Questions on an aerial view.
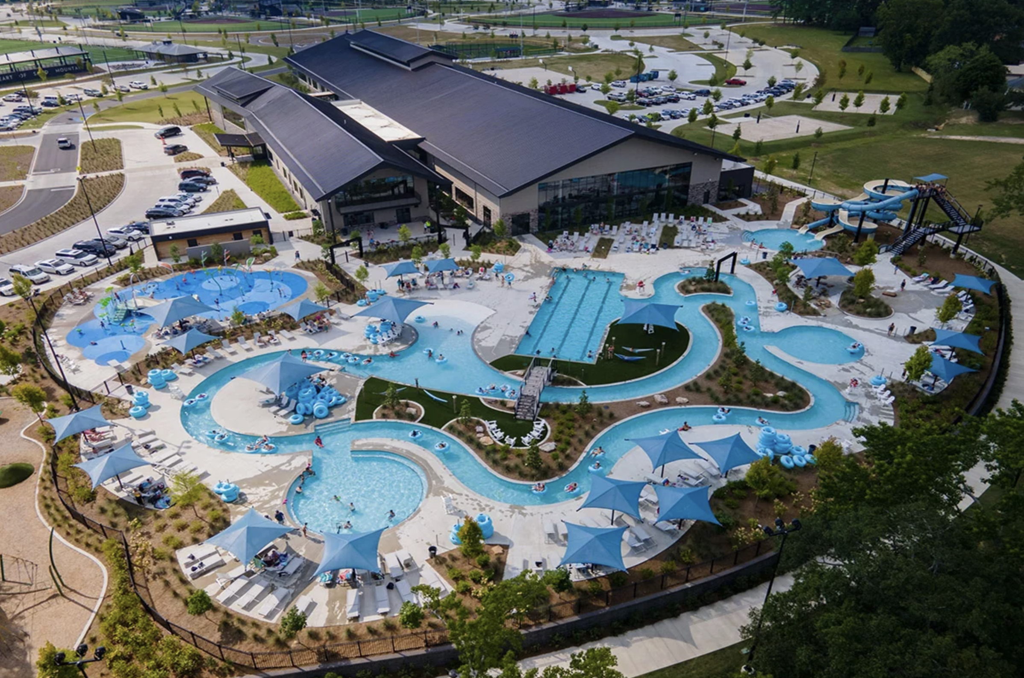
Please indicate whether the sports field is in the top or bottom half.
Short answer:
top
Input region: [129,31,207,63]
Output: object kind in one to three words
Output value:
building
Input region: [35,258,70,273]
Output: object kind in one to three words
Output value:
car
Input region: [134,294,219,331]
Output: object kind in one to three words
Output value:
umbrella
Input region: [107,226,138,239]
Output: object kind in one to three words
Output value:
vehicle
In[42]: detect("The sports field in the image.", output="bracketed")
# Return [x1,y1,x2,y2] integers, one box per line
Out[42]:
[0,0,771,75]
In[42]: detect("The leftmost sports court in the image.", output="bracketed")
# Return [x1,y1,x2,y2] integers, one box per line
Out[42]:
[428,43,563,58]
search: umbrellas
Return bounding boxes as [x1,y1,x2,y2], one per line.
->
[134,294,219,331]
[688,432,764,480]
[927,327,986,357]
[786,257,857,289]
[613,300,683,336]
[307,526,390,583]
[574,474,648,523]
[378,261,425,291]
[348,295,437,331]
[229,350,337,400]
[67,441,159,494]
[948,273,999,305]
[556,519,631,576]
[275,298,333,330]
[41,403,120,450]
[201,506,302,575]
[423,258,462,286]
[931,344,982,387]
[622,428,710,475]
[648,483,725,532]
[154,327,225,364]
